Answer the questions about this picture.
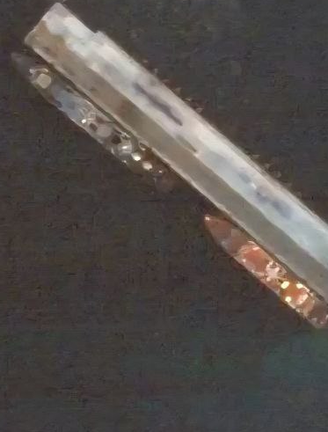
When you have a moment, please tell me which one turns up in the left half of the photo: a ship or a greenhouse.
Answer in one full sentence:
What appears in the left half of the photo is a ship.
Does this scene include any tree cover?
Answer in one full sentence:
No, the picture contains no tree cover.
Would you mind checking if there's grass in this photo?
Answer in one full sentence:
No, the scene doesn't show any grass.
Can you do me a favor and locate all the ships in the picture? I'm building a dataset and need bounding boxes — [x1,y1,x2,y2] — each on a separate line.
[206,216,328,335]
[11,51,176,196]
